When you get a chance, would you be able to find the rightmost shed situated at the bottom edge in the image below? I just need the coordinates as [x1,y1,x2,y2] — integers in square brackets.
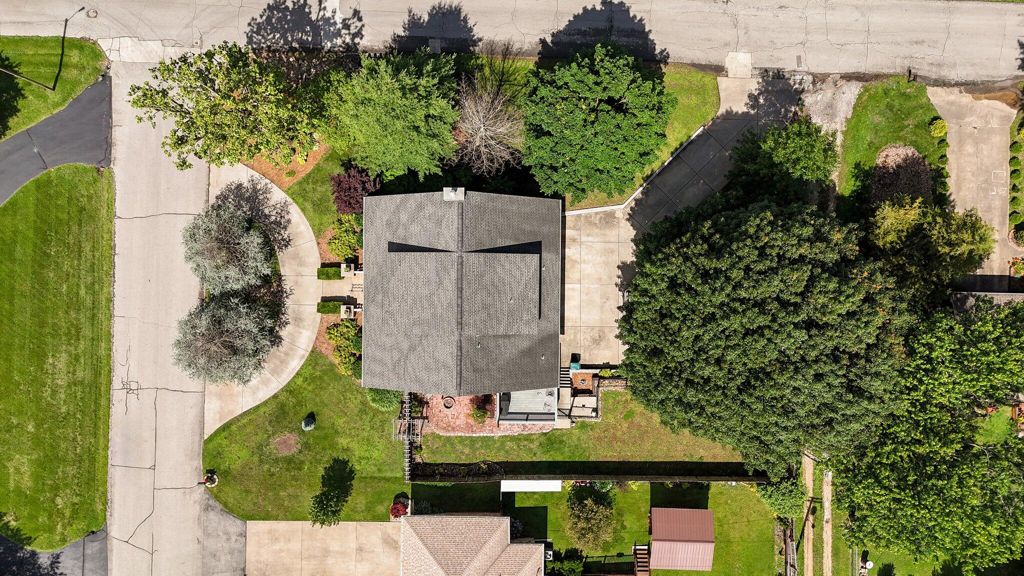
[647,504,715,571]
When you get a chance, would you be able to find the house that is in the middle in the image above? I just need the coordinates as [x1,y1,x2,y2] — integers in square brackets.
[361,188,562,397]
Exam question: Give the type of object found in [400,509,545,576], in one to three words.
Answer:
house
